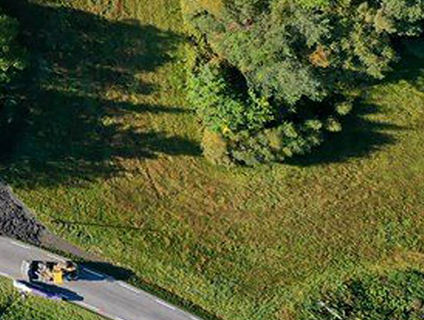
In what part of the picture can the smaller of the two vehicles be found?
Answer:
bottom left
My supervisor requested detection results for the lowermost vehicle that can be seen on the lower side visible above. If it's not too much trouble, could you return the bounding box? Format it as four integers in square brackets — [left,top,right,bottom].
[14,278,59,303]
